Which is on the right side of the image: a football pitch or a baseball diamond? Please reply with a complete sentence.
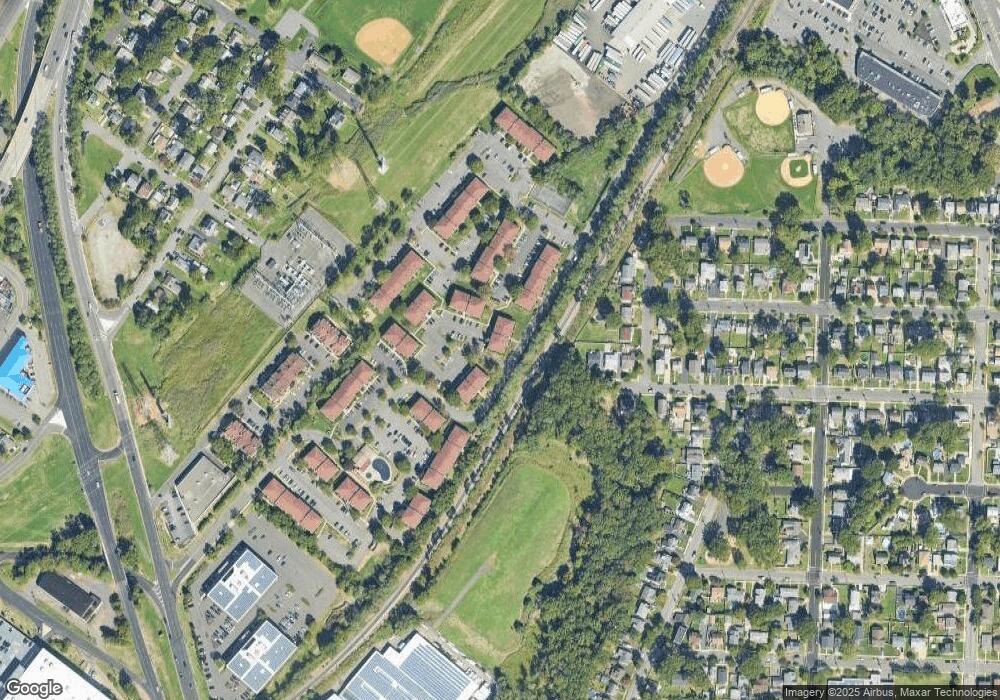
Looking on the right side of the image, you will find a baseball diamond.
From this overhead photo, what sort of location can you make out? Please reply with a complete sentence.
This looks like a residential area.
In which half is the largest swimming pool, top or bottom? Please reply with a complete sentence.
The bottom half of the photo is where the largest swimming pool is.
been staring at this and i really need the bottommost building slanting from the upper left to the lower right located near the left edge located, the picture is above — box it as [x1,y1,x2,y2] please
[36,571,100,620]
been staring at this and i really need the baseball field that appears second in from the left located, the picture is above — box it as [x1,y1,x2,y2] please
[704,145,744,187]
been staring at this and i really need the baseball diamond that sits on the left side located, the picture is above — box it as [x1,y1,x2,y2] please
[356,17,412,68]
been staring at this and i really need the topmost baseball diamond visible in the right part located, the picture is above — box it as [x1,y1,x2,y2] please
[757,89,790,127]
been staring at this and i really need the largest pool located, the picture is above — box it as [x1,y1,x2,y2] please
[362,455,393,482]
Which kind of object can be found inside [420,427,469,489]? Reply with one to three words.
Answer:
building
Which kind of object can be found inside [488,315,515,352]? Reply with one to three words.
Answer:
building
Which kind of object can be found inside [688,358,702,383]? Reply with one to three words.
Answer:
house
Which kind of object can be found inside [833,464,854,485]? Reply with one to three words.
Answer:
house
